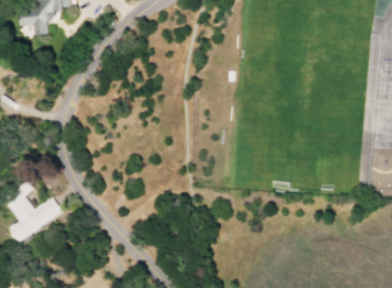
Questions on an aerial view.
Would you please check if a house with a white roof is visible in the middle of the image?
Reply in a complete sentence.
No, no house with a white roof appears in the middle of the image.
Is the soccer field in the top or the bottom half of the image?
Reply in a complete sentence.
Seen from above, the soccer field lies in the top half of the view.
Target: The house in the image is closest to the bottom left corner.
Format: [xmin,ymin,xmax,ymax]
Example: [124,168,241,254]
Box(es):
[8,184,61,241]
